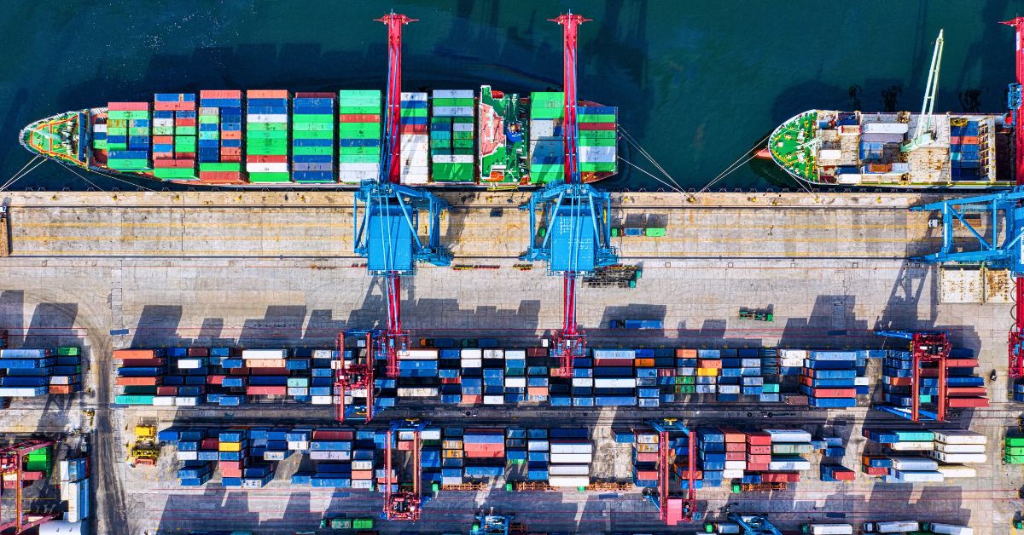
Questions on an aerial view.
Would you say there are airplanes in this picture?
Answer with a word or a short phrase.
No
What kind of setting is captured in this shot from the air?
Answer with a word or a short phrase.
port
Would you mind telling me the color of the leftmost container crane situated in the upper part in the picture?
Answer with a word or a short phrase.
blue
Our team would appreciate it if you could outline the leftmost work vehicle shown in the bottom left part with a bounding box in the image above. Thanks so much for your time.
[132,427,161,466]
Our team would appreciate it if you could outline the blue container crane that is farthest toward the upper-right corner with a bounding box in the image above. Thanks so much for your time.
[899,13,1024,377]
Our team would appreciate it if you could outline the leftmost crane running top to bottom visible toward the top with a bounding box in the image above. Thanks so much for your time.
[347,2,459,377]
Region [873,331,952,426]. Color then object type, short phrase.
red container crane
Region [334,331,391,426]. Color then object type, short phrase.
red container crane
